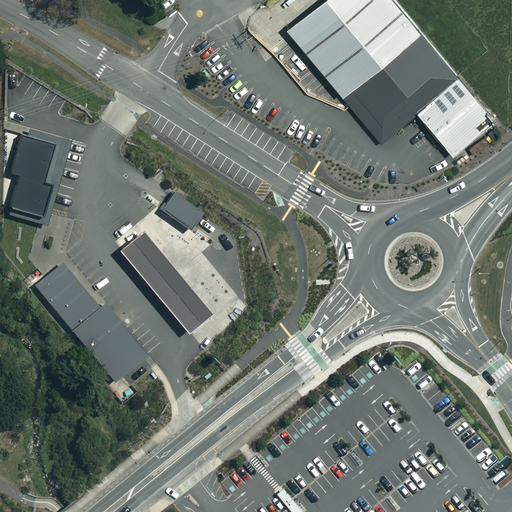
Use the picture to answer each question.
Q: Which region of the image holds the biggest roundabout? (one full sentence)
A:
The biggest roundabout is in the right part of the image.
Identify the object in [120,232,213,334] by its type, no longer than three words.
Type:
gas station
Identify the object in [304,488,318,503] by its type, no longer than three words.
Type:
car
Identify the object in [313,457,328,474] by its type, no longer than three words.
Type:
vehicle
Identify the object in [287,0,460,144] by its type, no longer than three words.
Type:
warehouse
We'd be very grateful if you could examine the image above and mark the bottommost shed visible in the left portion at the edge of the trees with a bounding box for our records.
[74,304,149,382]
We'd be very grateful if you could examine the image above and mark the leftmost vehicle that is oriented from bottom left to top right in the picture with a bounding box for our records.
[94,276,111,291]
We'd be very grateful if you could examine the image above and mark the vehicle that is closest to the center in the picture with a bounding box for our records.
[218,234,232,250]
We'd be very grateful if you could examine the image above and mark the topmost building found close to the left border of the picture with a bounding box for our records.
[10,130,71,226]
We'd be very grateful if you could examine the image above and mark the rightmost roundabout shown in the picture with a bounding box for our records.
[356,204,472,320]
